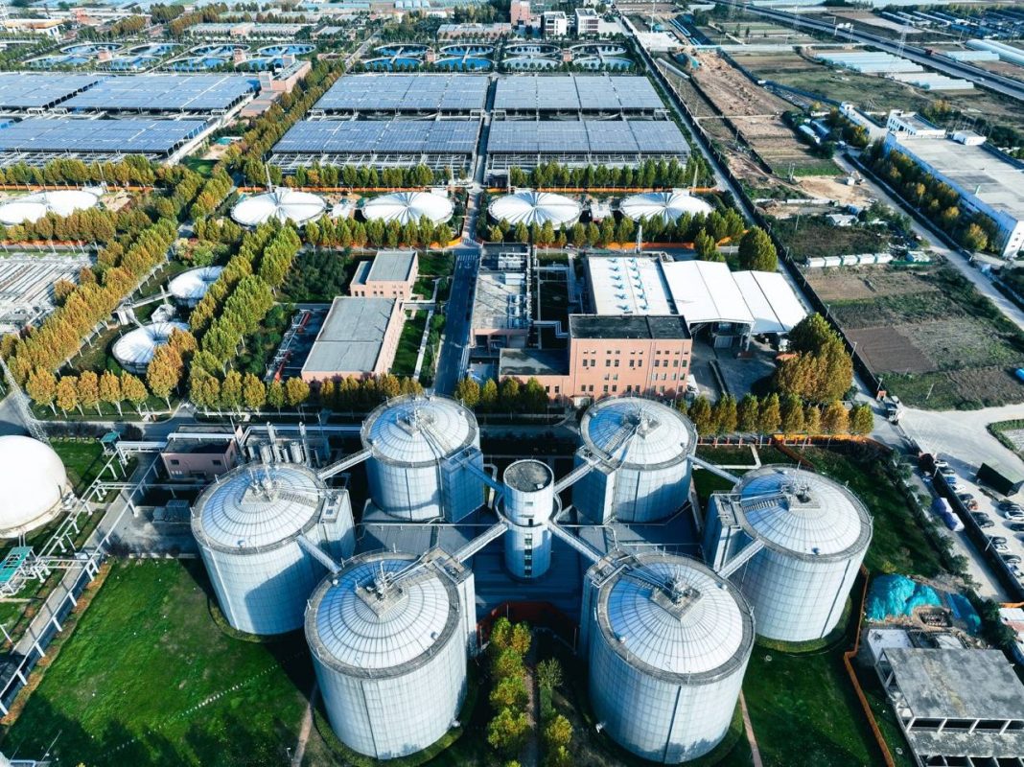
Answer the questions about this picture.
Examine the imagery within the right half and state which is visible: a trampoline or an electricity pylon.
electricity pylon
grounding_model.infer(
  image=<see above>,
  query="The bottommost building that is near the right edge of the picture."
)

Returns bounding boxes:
[859,648,1024,767]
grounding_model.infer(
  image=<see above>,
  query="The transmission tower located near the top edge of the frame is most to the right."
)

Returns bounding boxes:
[888,12,913,75]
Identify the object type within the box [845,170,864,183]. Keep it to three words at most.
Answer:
vehicle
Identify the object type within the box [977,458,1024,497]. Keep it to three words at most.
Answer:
shed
